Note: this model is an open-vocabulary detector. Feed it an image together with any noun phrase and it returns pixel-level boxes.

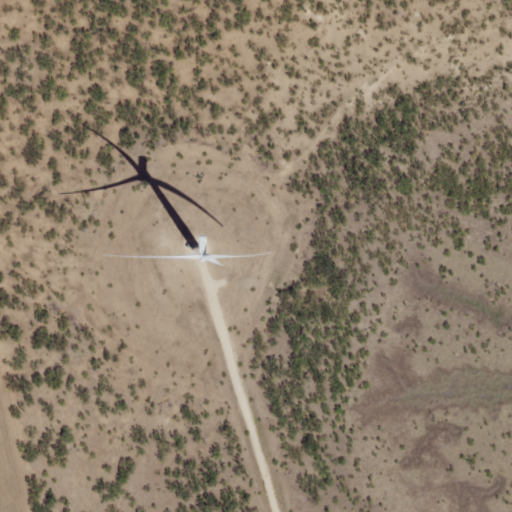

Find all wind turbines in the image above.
[116,236,262,264]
